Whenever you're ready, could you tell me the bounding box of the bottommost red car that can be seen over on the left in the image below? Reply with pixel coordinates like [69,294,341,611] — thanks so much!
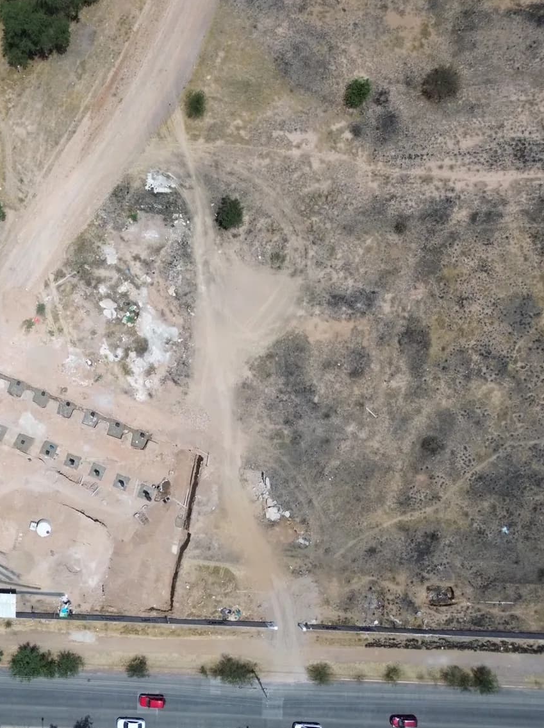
[139,694,166,709]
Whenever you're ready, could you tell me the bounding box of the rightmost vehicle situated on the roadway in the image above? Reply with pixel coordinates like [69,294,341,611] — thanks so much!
[391,713,419,728]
